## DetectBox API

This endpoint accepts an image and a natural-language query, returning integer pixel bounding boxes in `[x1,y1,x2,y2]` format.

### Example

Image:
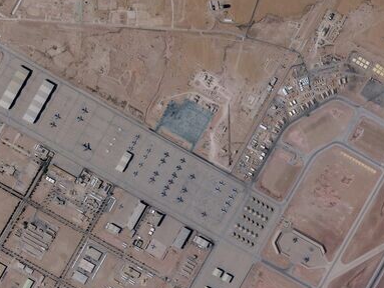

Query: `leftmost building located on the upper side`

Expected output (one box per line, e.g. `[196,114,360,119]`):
[0,67,29,108]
